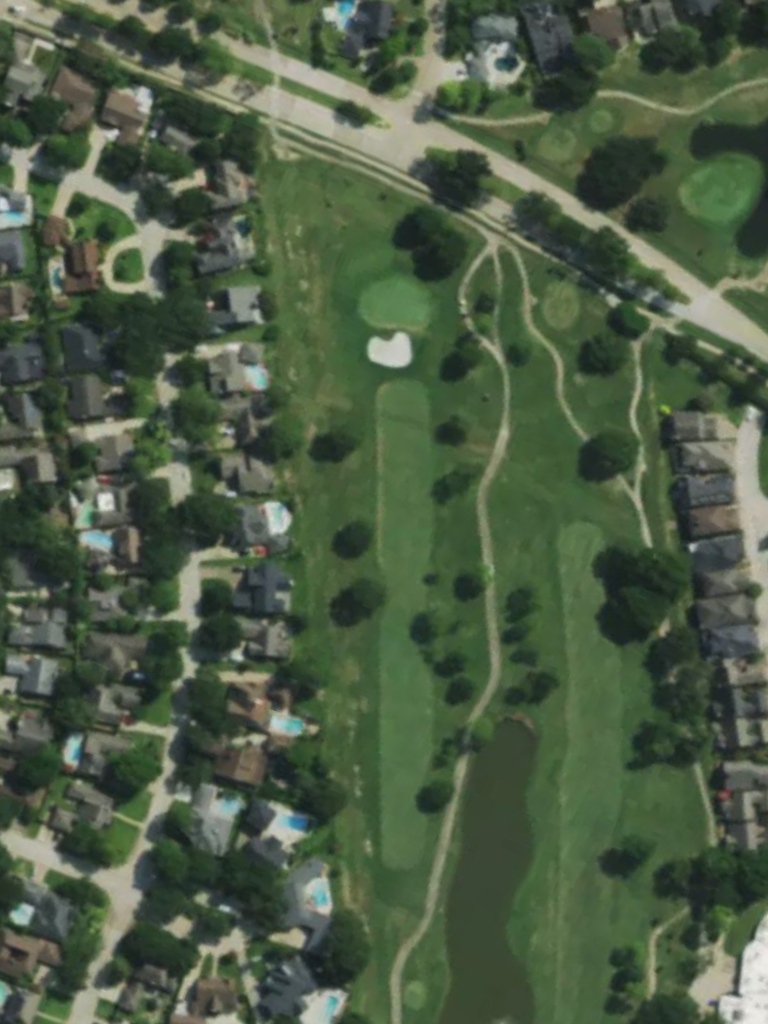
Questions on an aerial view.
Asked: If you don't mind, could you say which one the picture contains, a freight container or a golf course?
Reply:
golf course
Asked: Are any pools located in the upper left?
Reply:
Yes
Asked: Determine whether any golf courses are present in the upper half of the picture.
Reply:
Yes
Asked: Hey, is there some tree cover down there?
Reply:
Yes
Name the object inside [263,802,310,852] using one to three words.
swimming pool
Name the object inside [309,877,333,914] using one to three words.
swimming pool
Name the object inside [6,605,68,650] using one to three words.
house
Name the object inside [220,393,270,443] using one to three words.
house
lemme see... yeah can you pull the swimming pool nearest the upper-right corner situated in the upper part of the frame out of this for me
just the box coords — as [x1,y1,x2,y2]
[486,42,522,89]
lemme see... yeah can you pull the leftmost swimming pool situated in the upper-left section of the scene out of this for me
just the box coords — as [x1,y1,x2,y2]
[0,193,33,229]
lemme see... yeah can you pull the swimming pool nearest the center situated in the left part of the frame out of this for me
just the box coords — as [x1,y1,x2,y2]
[267,501,292,531]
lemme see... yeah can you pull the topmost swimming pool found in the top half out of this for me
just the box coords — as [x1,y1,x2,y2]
[323,0,358,31]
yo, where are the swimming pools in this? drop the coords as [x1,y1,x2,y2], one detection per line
[309,877,333,914]
[69,492,94,529]
[267,501,292,531]
[300,988,348,1024]
[0,193,33,229]
[49,257,65,294]
[219,794,245,819]
[233,214,255,260]
[11,902,33,926]
[64,732,84,767]
[270,711,315,736]
[79,529,111,551]
[486,42,522,89]
[323,0,358,31]
[263,802,310,852]
[242,364,270,391]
